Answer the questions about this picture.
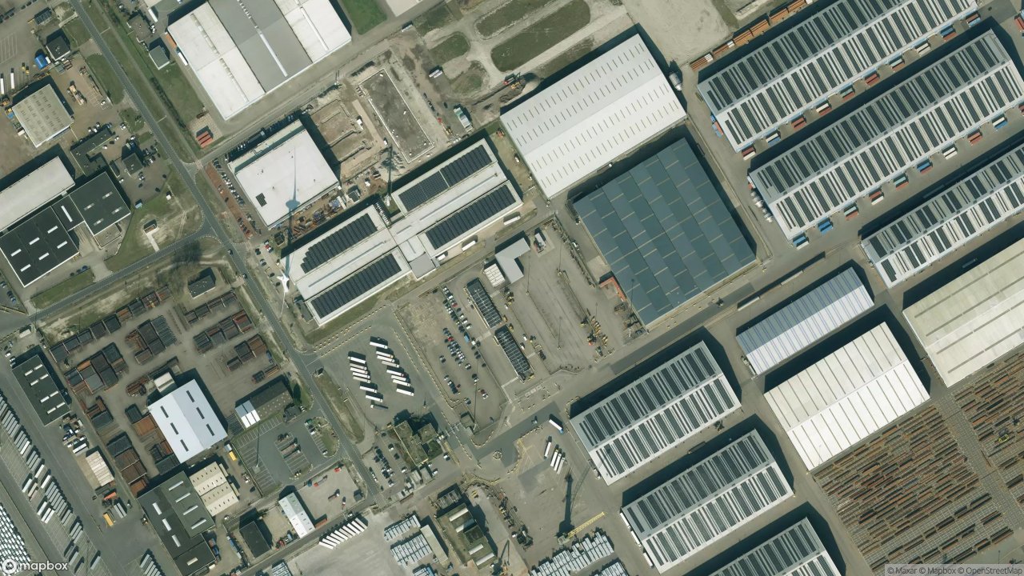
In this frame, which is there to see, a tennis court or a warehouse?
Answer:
warehouse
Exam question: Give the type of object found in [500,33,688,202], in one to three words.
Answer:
warehouse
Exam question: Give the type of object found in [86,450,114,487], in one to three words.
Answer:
shed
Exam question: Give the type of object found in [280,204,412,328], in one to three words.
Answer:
building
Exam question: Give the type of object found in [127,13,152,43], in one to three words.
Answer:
house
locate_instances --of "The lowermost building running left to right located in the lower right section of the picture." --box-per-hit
[705,517,841,576]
